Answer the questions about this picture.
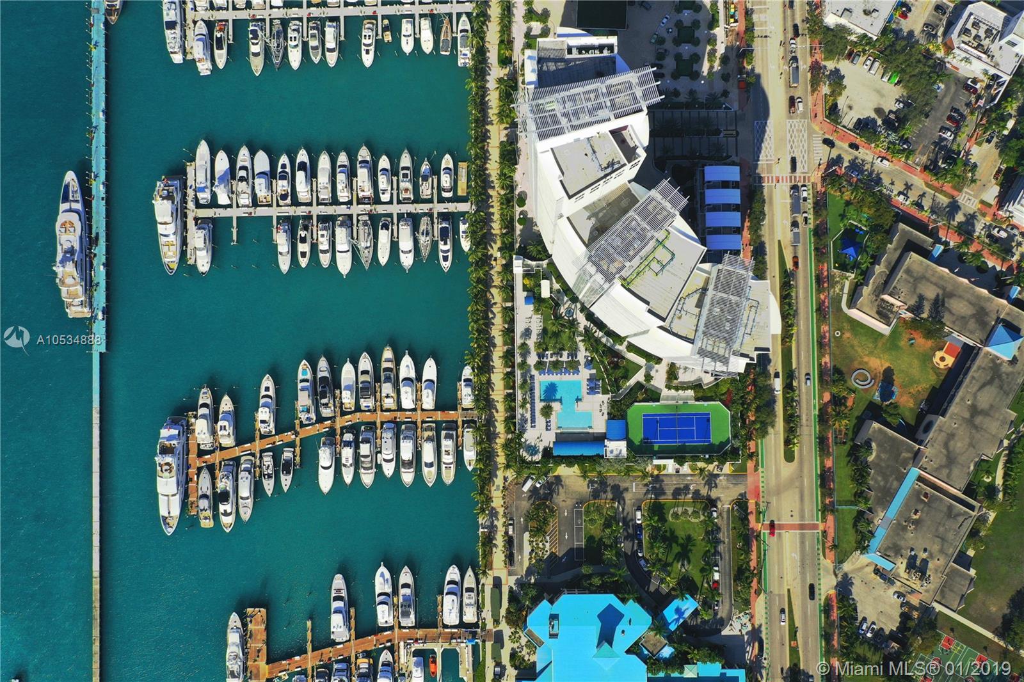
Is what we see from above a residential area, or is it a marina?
marina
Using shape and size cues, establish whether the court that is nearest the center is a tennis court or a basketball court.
tennis court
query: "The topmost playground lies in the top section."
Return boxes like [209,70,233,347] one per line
[832,222,868,273]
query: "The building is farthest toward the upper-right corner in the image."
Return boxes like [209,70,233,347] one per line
[933,1,1024,111]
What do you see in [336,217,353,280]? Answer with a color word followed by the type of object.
white boat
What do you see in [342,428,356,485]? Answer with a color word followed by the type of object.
white boat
